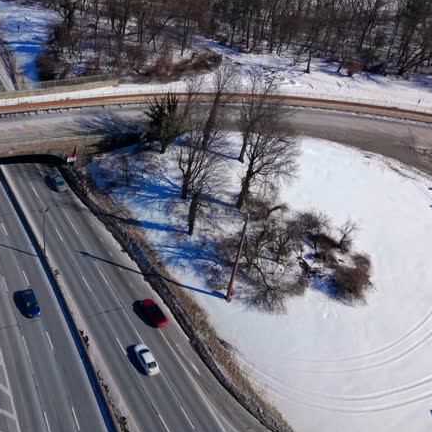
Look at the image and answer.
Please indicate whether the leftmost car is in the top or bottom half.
bottom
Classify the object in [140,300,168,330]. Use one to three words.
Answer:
car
